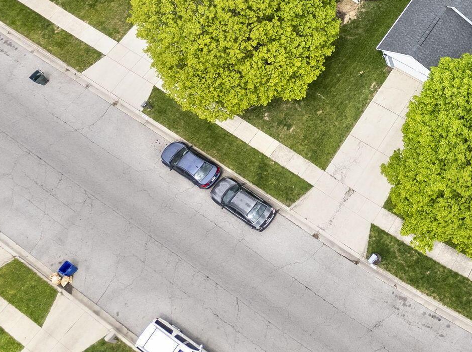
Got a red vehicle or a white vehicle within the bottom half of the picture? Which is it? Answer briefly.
white vehicle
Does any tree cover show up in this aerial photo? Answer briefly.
Yes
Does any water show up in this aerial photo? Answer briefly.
No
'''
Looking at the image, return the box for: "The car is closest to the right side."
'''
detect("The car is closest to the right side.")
[210,172,282,238]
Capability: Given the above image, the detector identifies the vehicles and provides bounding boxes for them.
[159,137,225,196]
[135,319,207,352]
[210,172,282,238]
